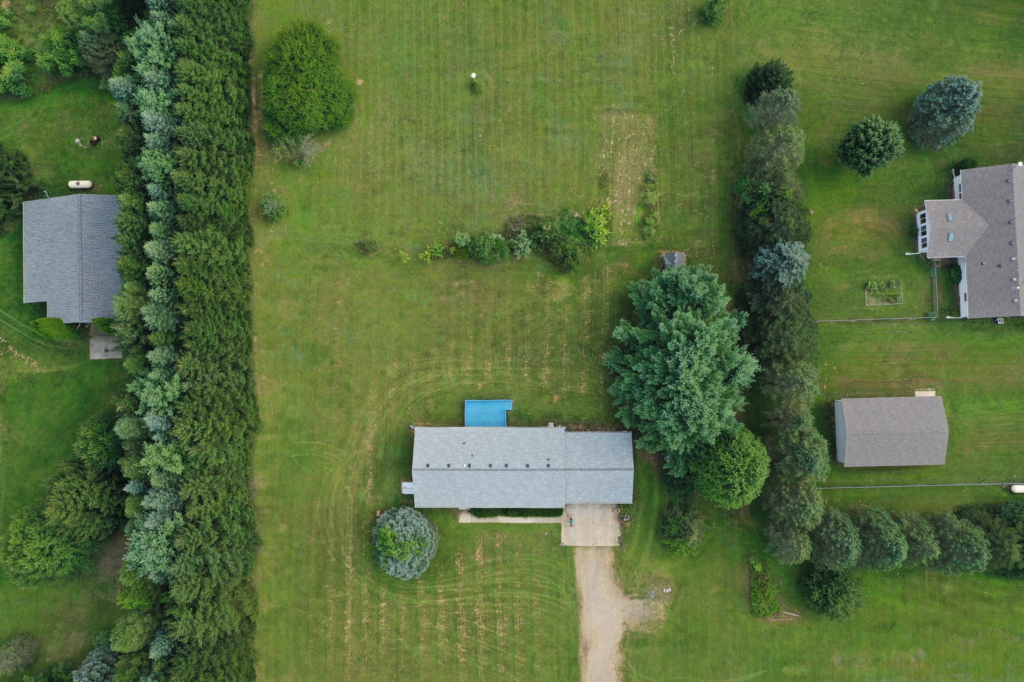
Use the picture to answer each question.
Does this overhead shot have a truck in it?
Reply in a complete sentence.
No, no truck is visible in the view.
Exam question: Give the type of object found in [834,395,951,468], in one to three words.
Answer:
shed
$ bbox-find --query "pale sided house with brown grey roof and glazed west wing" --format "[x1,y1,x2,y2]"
[900,162,1024,319]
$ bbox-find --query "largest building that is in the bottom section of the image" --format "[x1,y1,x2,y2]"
[412,427,635,508]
